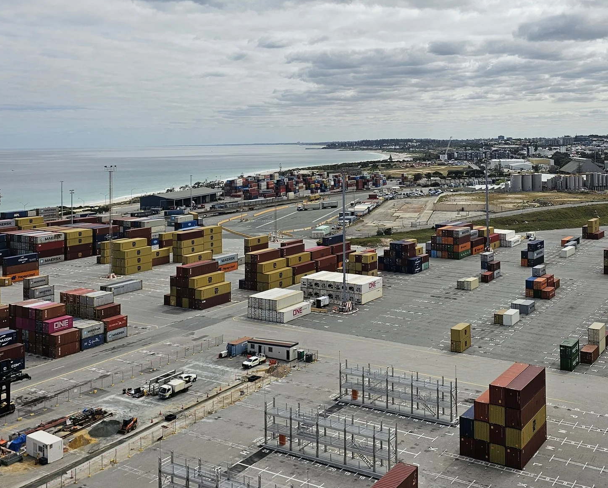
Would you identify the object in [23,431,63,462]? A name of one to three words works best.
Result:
shed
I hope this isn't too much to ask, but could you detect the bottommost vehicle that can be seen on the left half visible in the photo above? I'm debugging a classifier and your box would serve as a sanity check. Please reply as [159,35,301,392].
[114,415,137,436]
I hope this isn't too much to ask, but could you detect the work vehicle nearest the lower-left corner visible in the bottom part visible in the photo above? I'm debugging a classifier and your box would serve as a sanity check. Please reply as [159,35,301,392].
[0,357,36,414]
